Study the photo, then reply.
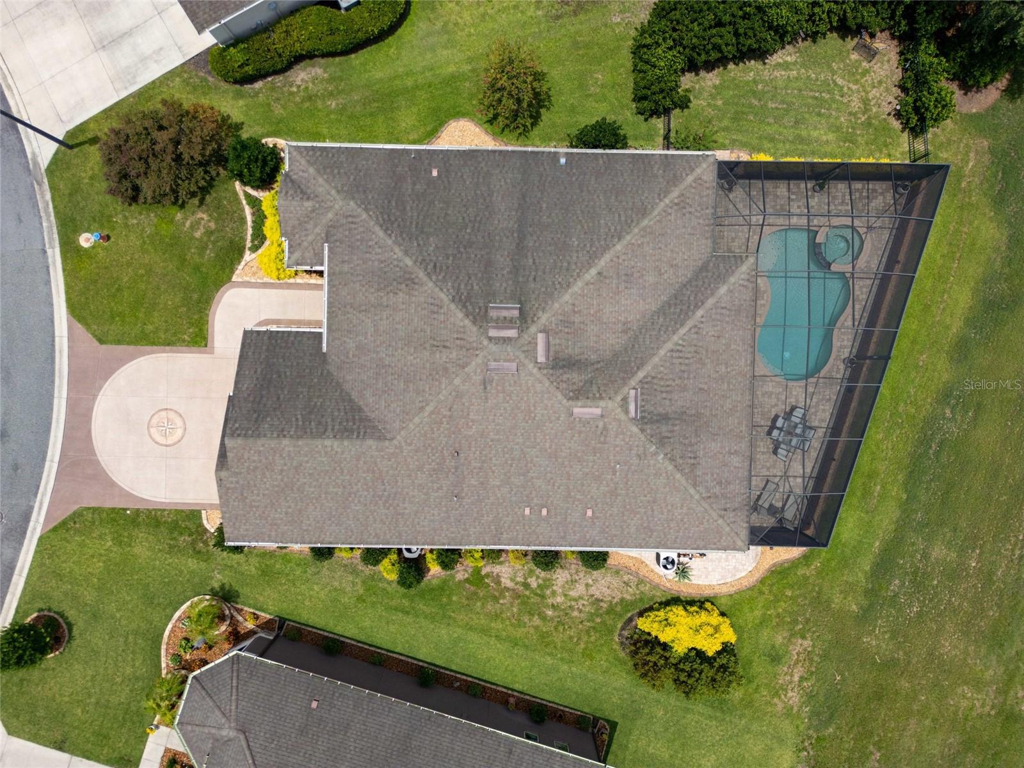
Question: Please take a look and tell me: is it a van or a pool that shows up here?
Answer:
pool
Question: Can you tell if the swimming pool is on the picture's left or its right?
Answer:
right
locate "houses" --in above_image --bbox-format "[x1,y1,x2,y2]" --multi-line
[215,144,757,554]
[175,631,624,768]
[179,0,306,44]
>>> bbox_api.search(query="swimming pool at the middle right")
[753,220,865,386]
